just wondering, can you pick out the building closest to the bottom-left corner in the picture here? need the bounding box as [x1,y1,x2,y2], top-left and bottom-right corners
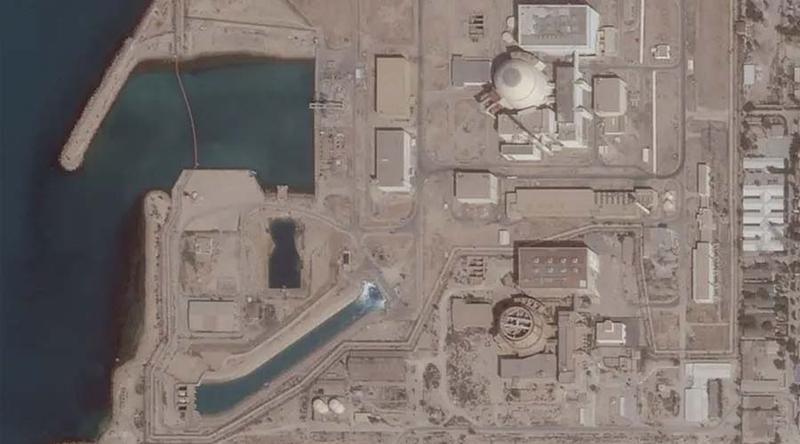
[177,384,189,417]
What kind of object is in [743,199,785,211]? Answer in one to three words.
shed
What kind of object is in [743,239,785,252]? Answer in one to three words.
shed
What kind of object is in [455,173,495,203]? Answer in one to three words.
building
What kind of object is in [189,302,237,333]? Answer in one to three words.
building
